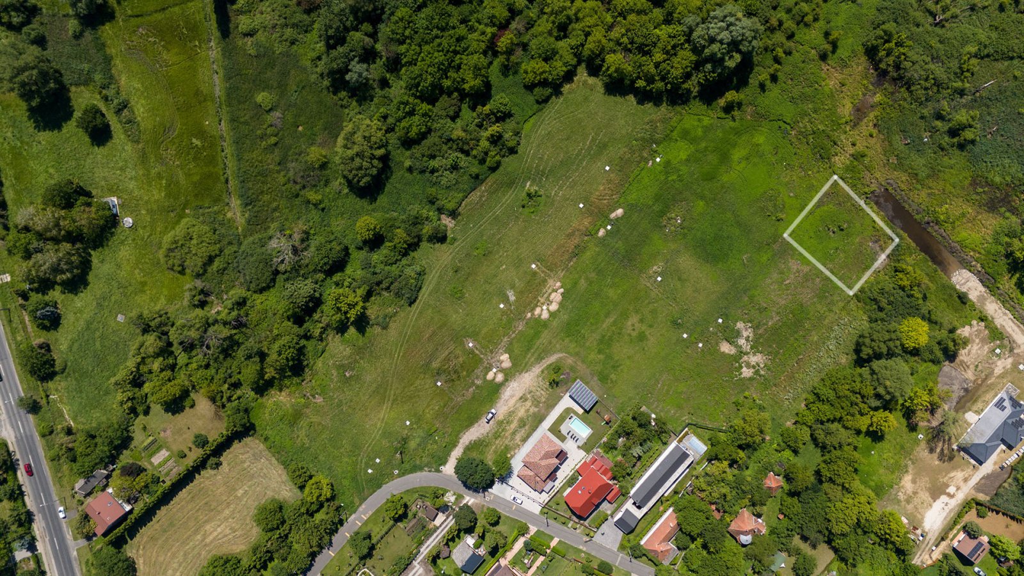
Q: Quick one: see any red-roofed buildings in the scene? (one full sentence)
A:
Yes, a red-roofed building can be made out from above.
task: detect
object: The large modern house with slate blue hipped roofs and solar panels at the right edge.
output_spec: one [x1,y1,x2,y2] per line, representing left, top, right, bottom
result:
[953,384,1024,467]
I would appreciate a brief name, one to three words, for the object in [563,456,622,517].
house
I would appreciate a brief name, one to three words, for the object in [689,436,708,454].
swimming pool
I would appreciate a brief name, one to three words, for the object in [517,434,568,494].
house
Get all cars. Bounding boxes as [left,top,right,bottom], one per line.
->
[59,506,67,519]
[485,409,496,423]
[510,495,523,504]
[25,463,33,476]
[973,565,985,576]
